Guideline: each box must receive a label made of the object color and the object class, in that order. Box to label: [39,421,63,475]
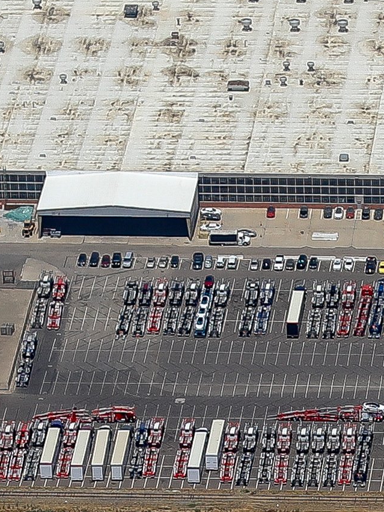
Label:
white truck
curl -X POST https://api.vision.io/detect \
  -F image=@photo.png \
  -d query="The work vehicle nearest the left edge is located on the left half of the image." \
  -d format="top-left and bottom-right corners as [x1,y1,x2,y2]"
[22,220,36,237]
